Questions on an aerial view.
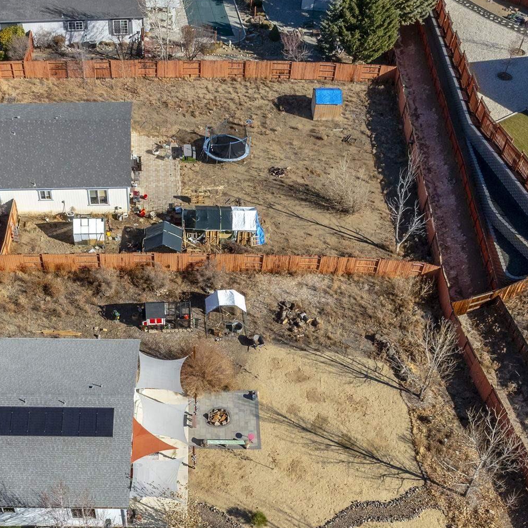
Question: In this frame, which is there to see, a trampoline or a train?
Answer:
trampoline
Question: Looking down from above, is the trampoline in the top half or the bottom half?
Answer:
top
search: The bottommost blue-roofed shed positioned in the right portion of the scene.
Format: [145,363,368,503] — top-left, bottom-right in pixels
[311,87,345,119]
